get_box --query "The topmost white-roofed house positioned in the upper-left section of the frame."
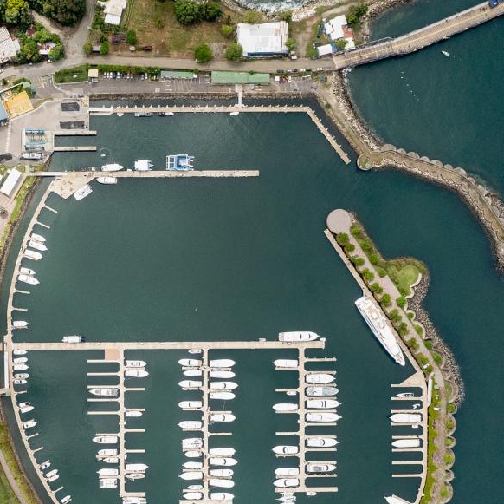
[99,0,126,27]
